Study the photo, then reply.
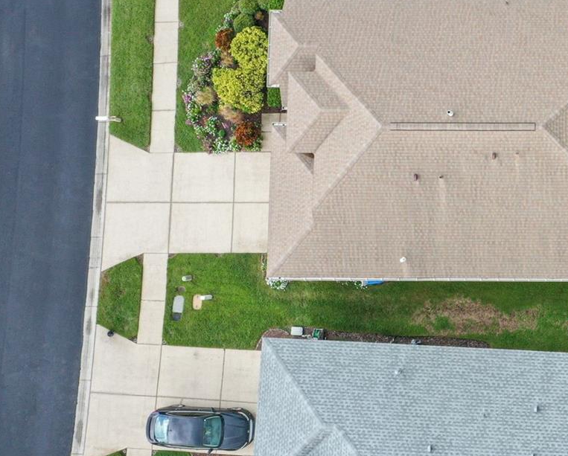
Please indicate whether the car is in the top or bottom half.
bottom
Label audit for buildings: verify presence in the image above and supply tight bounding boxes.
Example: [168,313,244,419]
[253,337,568,456]
[264,0,568,284]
